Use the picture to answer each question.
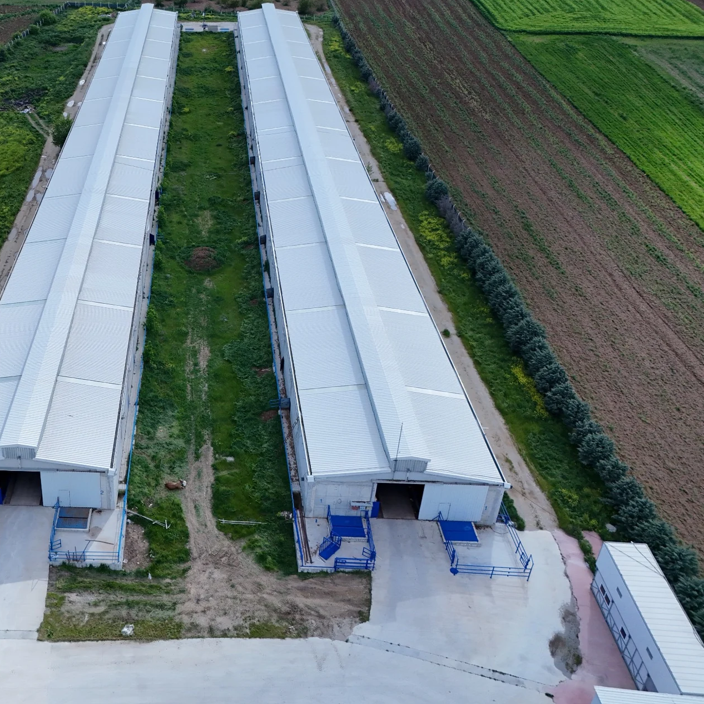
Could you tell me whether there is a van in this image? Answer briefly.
No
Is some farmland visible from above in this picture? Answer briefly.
Yes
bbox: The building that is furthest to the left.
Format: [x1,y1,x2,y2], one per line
[0,3,178,512]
